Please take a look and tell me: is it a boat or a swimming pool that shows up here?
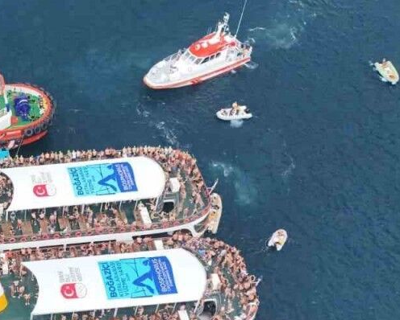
boat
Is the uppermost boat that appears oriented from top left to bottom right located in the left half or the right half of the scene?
right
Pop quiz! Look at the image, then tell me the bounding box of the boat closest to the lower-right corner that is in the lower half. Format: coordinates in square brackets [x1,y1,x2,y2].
[268,228,287,252]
